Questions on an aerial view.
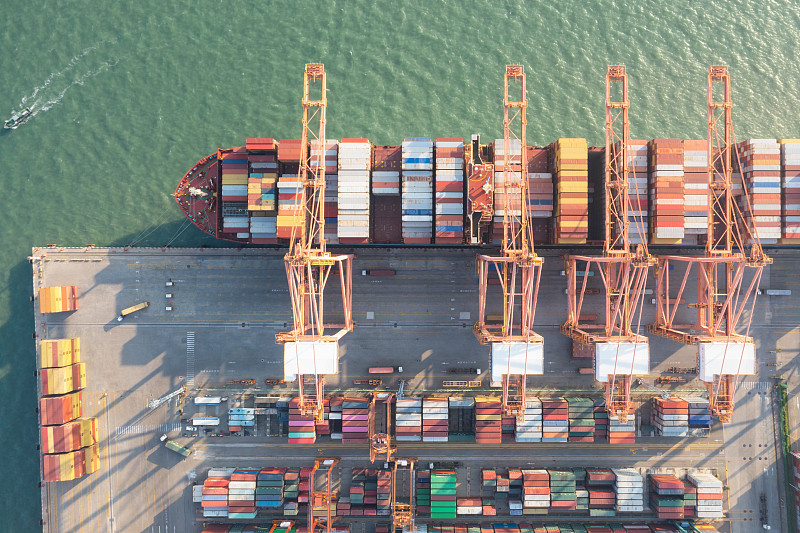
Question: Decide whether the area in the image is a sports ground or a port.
port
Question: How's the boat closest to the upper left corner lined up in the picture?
diagonally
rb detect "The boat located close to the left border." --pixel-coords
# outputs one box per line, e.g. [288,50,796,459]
[3,106,30,127]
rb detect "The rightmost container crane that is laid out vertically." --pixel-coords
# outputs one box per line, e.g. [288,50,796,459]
[644,63,779,430]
